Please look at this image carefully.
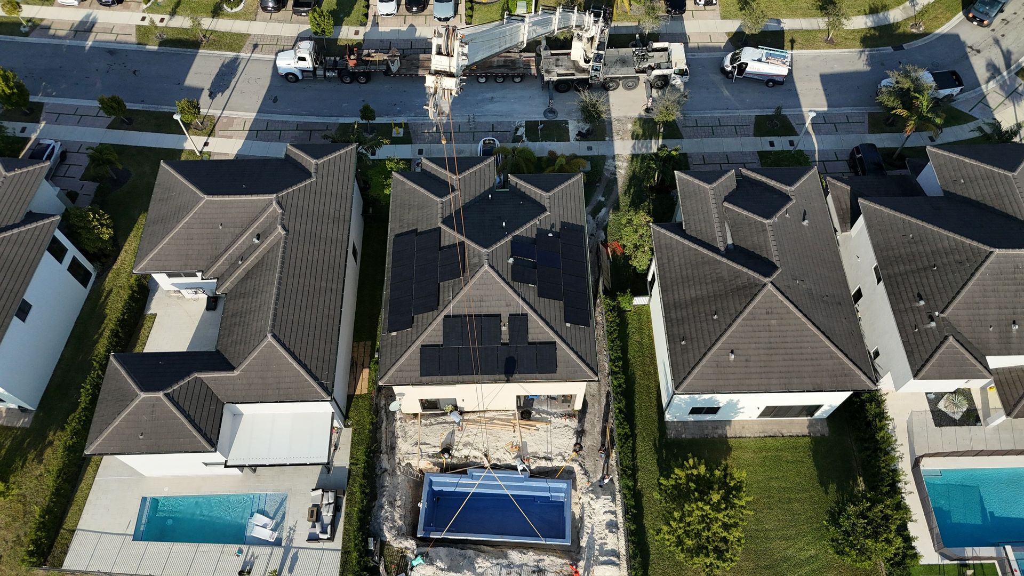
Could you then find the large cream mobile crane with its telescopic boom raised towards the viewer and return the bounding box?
[417,1,701,127]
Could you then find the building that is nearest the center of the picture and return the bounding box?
[377,154,600,413]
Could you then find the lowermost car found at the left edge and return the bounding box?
[30,134,75,178]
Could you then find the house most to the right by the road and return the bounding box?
[826,145,1024,430]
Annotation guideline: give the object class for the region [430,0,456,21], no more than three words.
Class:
car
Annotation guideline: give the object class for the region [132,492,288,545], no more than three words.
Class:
swimming pool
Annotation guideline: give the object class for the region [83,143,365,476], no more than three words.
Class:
house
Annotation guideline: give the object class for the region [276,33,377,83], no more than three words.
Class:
truck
